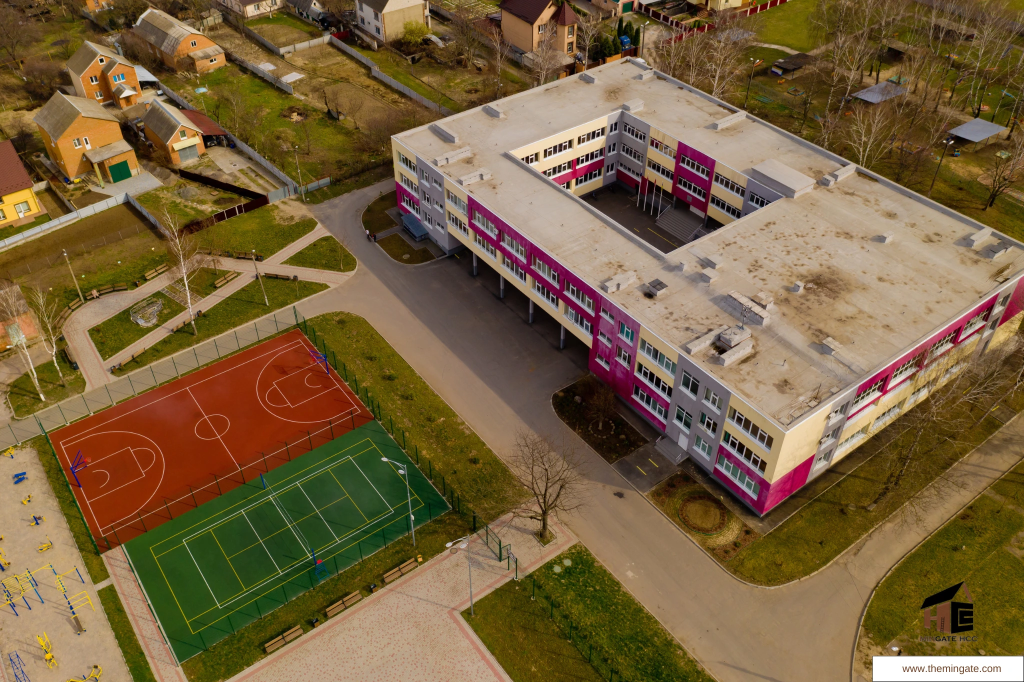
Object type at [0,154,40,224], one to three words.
house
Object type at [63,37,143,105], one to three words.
house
